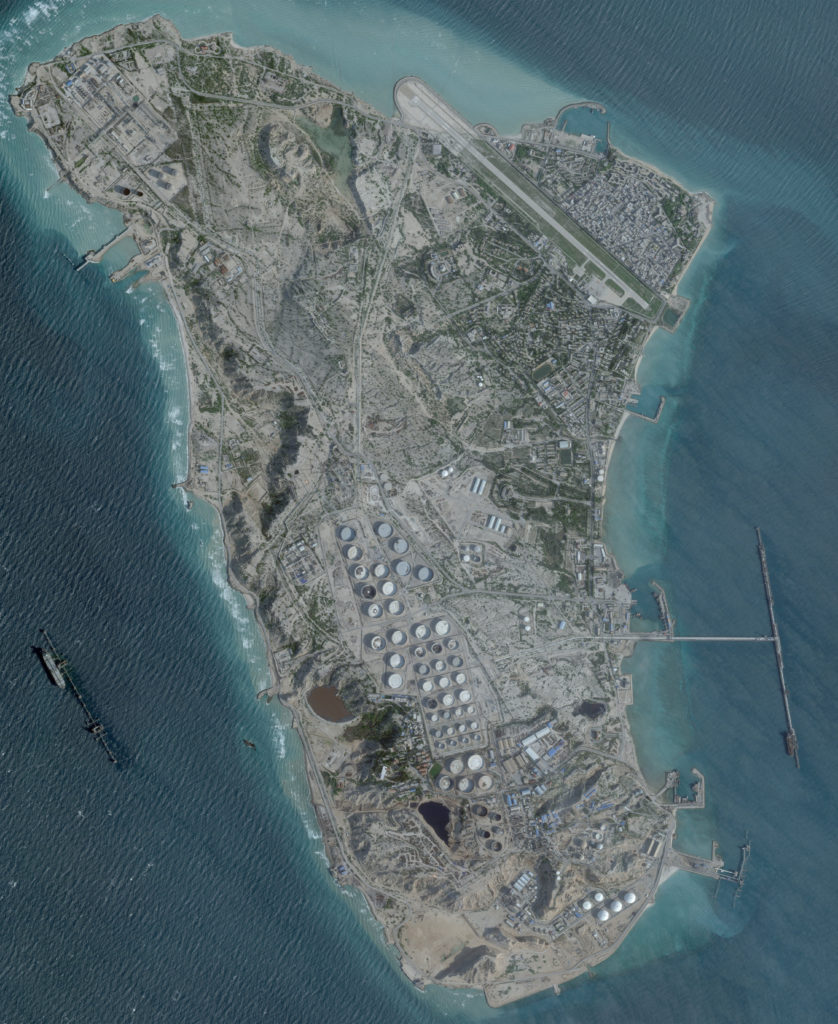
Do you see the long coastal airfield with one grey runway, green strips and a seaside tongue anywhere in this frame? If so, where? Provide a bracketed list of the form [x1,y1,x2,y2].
[398,79,663,318]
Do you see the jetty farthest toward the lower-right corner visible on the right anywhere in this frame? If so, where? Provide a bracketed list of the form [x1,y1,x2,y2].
[668,840,750,908]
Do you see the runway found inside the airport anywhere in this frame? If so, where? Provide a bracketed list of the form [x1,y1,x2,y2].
[418,103,649,308]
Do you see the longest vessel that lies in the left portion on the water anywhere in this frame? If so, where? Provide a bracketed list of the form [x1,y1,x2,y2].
[40,649,66,689]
